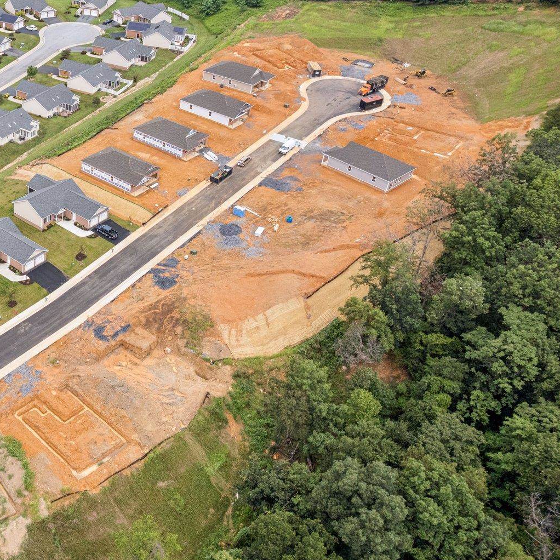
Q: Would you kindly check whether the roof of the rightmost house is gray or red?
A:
gray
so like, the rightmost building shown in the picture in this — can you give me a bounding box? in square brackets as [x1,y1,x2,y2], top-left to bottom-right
[316,135,415,193]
